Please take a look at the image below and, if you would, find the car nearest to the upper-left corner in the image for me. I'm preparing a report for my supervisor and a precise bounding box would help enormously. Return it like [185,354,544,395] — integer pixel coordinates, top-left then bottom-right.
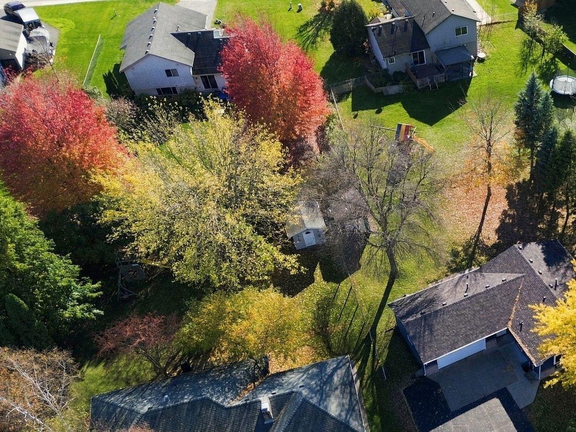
[2,3,27,22]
